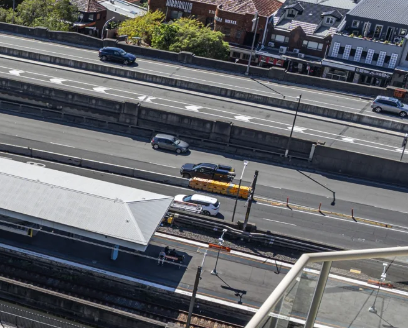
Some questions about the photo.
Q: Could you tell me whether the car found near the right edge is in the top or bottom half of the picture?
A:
top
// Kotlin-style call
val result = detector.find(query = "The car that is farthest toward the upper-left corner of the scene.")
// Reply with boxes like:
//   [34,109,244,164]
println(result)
[98,47,137,66]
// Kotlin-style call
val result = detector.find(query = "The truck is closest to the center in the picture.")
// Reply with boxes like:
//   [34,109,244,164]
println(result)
[183,161,237,184]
